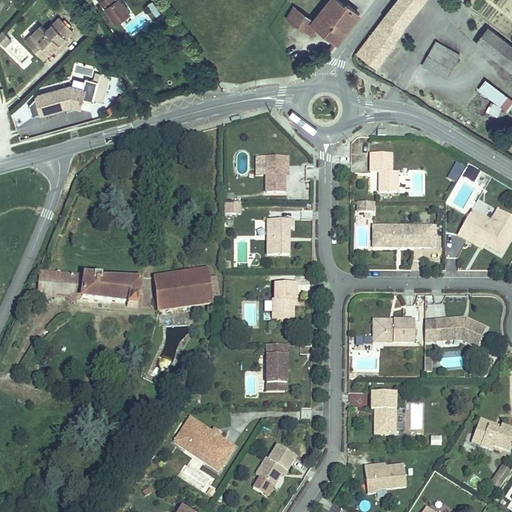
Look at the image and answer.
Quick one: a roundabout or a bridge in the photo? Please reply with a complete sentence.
The one in the frame is a roundabout.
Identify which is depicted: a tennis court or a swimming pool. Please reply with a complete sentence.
This aerial view contains a swimming pool.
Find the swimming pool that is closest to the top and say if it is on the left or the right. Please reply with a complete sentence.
The swimming pool that is closest to the top is on the left side of the image.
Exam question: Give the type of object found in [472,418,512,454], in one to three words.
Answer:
house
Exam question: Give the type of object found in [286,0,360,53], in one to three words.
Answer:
building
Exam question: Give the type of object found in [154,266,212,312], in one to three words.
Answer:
barn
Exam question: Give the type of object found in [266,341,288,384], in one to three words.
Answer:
house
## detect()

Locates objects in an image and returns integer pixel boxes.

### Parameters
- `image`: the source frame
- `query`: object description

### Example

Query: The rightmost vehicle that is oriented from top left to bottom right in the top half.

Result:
[288,112,318,136]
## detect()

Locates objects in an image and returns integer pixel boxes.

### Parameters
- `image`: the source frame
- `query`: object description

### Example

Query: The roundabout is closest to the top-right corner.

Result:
[296,79,355,140]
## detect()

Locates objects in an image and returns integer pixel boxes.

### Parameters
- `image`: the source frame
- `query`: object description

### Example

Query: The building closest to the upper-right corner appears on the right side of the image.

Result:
[476,30,512,72]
